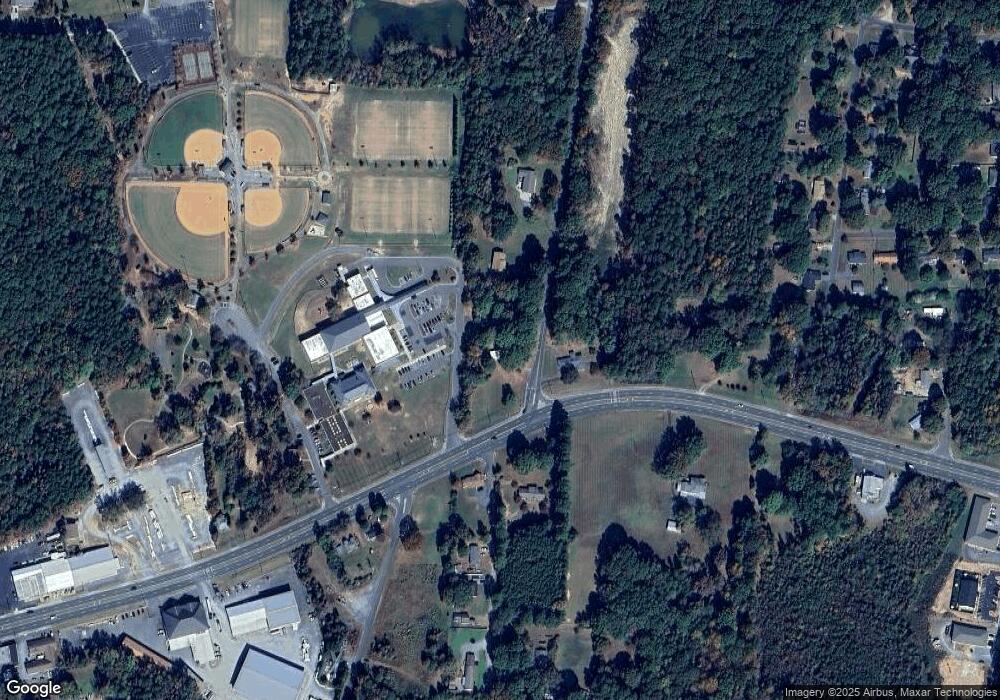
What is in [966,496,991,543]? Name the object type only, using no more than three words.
building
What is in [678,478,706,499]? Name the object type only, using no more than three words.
house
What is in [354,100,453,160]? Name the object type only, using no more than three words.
soccer field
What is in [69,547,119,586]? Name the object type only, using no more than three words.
building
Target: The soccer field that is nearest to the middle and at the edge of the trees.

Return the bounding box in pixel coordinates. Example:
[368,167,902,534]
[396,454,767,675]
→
[351,176,451,233]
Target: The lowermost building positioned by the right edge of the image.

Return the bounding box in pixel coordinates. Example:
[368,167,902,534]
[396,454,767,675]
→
[950,622,988,646]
